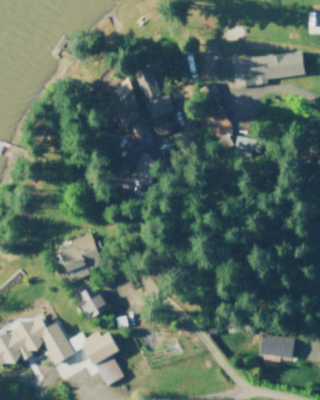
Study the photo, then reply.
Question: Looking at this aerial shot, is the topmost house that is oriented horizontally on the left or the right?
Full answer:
The topmost house that is oriented horizontally sits on the right side.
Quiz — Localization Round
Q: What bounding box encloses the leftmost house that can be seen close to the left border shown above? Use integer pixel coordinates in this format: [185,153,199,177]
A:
[0,312,74,368]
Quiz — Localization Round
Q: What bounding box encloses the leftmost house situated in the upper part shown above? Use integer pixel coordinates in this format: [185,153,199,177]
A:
[110,74,144,140]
